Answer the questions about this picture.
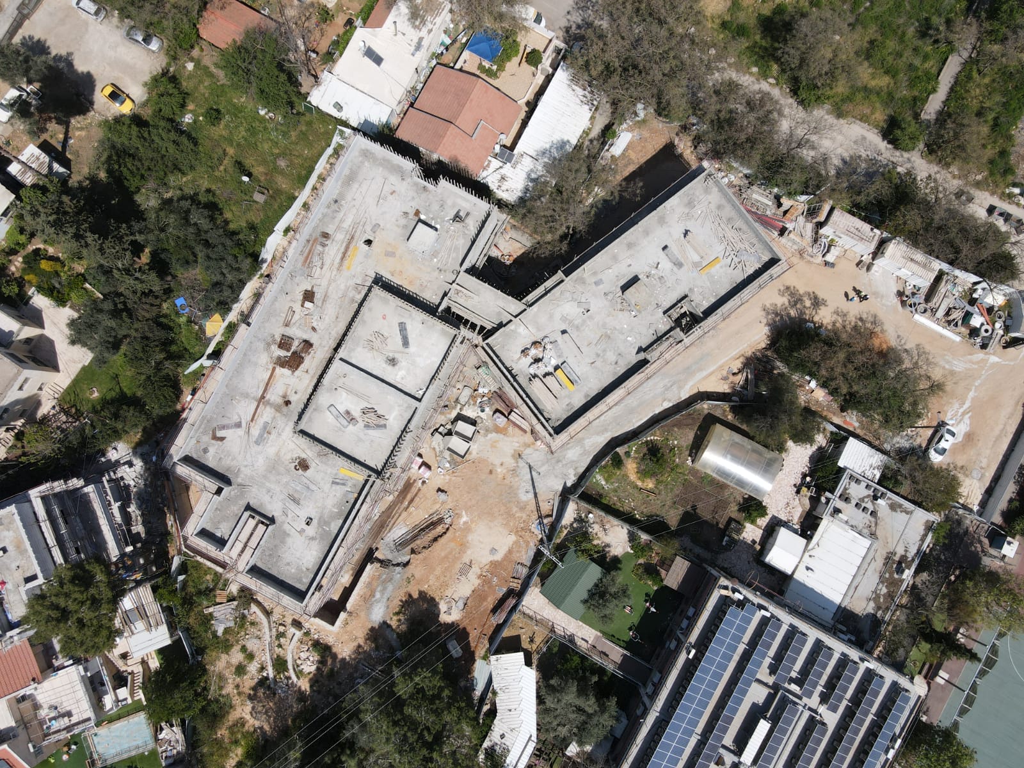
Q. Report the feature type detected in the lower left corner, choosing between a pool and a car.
pool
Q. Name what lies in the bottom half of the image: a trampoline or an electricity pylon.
electricity pylon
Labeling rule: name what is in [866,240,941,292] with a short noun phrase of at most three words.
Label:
shed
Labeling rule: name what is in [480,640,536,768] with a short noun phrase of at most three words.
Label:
shed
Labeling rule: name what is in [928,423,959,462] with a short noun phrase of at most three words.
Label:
car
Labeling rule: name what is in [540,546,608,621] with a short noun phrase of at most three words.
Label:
house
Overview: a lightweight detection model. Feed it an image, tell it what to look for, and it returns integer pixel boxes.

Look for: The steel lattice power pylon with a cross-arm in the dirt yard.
[537,530,565,570]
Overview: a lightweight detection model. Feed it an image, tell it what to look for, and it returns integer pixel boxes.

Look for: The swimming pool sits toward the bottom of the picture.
[81,709,157,767]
